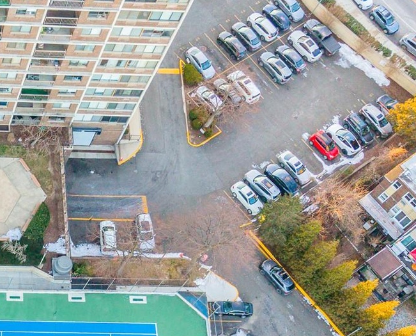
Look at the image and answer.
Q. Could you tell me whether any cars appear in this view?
Yes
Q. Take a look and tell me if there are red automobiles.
Yes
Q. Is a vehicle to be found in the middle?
Yes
